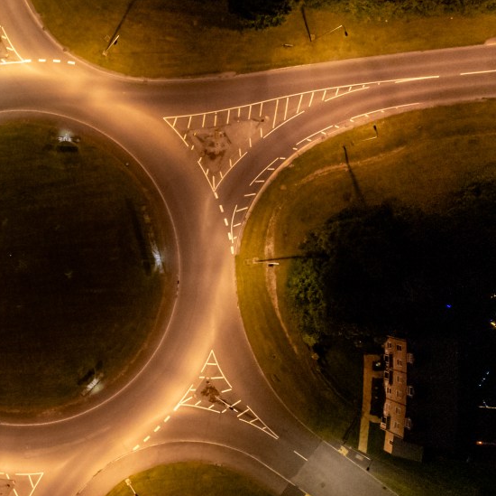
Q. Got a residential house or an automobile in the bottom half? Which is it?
residential house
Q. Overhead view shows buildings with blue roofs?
No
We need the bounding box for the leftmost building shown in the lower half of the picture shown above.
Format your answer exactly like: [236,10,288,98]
[381,434,424,463]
